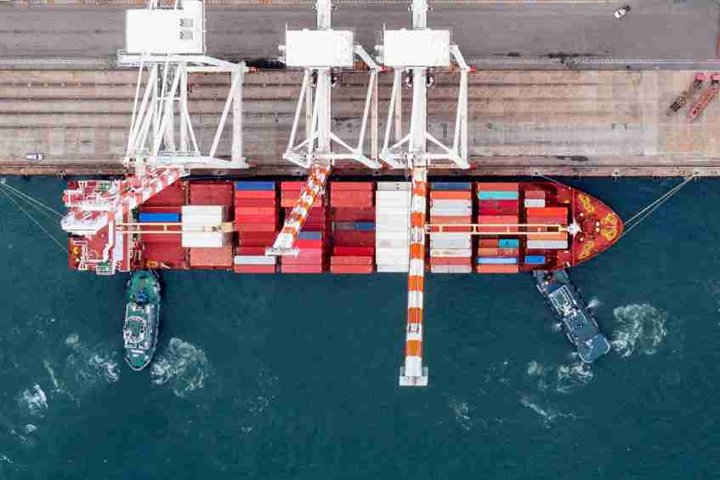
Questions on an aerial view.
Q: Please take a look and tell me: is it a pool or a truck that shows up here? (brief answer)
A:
truck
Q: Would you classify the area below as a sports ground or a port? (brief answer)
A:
port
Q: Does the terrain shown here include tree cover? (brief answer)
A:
No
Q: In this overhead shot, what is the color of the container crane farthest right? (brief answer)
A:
white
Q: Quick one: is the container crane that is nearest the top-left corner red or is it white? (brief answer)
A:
white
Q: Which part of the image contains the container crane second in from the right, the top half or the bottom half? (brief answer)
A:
top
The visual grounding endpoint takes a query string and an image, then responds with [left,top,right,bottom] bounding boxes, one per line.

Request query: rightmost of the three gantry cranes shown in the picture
[378,0,484,384]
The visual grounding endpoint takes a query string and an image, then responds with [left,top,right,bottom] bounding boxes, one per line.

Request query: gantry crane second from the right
[261,0,396,259]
